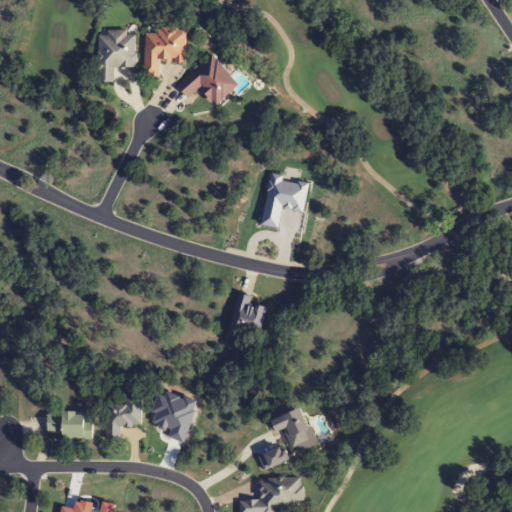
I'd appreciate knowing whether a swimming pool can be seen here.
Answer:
Yes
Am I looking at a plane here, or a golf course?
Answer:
golf course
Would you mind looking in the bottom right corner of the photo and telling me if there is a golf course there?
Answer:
Yes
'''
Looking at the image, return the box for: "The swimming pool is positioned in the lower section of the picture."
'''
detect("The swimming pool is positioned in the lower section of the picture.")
[304,412,334,437]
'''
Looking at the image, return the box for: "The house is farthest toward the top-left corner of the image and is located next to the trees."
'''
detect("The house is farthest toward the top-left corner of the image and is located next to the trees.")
[98,28,138,82]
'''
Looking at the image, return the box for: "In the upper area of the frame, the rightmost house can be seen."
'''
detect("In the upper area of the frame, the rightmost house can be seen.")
[260,170,312,226]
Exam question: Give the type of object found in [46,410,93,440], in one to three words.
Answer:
house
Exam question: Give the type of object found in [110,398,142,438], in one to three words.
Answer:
house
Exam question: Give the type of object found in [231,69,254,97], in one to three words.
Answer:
swimming pool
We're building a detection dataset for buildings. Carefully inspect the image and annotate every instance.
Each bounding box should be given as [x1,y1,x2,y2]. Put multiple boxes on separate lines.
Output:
[110,398,142,438]
[258,448,289,472]
[98,28,138,82]
[235,477,306,512]
[149,392,198,444]
[270,407,318,452]
[260,170,312,226]
[46,410,93,440]
[144,25,188,78]
[176,53,238,104]
[60,500,116,512]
